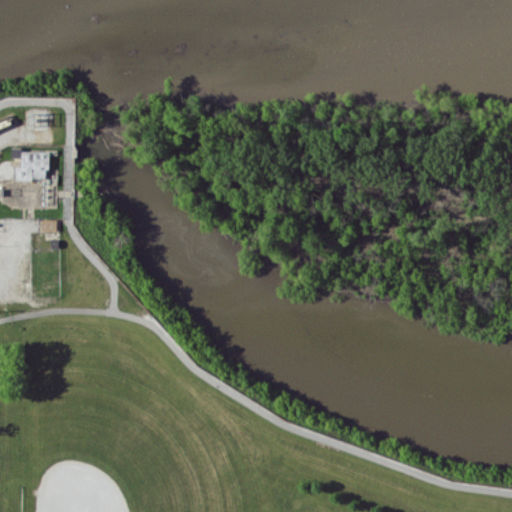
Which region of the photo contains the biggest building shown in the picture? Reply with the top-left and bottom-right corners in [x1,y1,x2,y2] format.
[16,152,50,182]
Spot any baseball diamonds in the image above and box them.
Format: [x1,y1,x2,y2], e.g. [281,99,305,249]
[33,356,225,512]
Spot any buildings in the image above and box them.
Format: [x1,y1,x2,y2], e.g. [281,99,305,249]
[16,152,50,182]
[42,220,58,232]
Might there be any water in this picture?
Yes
